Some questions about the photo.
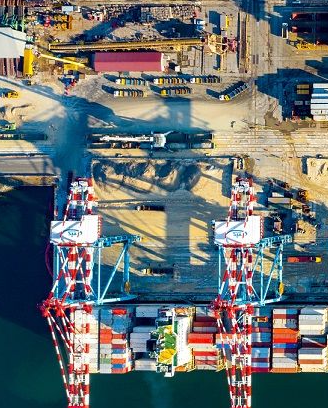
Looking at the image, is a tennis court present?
No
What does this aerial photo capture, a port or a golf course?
port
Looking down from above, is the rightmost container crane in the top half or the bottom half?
bottom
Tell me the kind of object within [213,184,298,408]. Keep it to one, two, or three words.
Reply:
container crane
